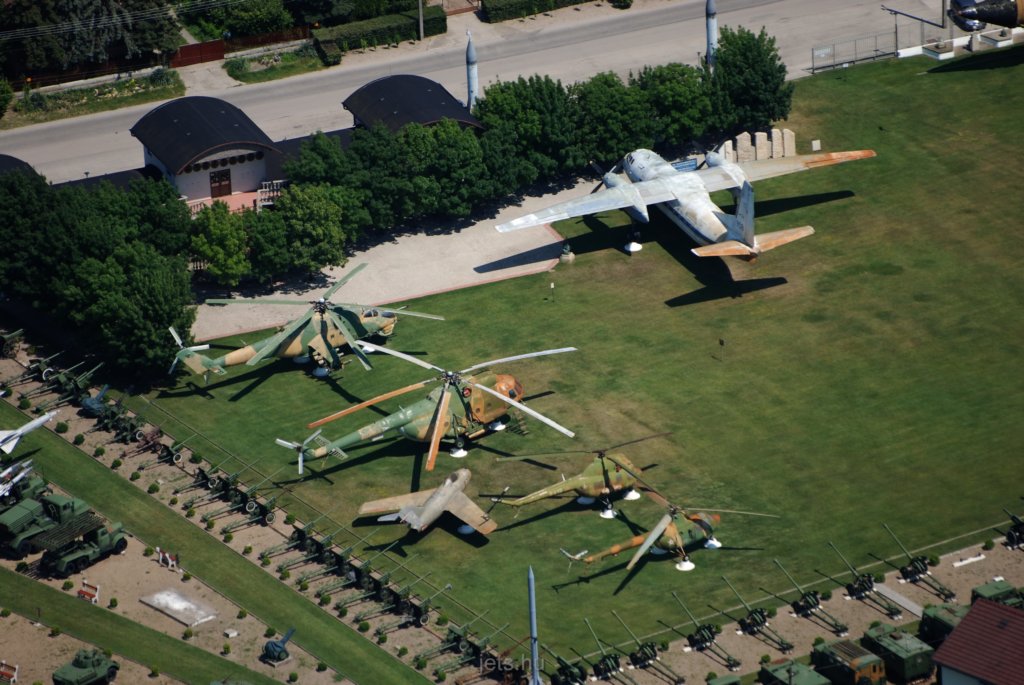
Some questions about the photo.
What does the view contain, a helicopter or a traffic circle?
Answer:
helicopter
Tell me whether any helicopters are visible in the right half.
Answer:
Yes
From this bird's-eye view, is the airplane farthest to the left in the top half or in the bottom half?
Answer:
bottom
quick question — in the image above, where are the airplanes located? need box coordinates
[357,465,497,535]
[494,135,878,260]
[964,0,1024,27]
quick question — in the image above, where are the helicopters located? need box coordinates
[485,434,669,520]
[280,342,578,475]
[161,264,442,382]
[567,472,779,575]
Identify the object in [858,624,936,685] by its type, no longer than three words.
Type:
van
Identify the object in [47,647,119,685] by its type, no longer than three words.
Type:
car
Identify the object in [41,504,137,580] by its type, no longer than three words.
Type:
truck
